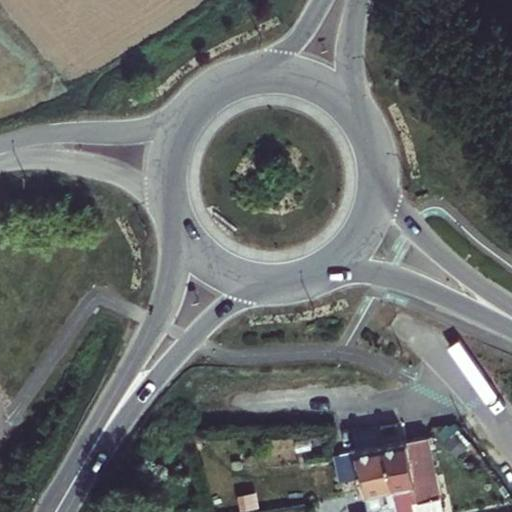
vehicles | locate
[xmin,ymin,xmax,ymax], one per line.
[501,465,512,488]
[138,380,157,402]
[90,452,108,475]
[214,299,234,318]
[404,214,422,237]
[184,218,200,240]
[342,426,353,449]
[308,400,330,410]
[448,342,506,416]
[329,270,352,281]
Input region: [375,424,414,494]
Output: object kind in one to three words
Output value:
house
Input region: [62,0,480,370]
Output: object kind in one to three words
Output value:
roundabout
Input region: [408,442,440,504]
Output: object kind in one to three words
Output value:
house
